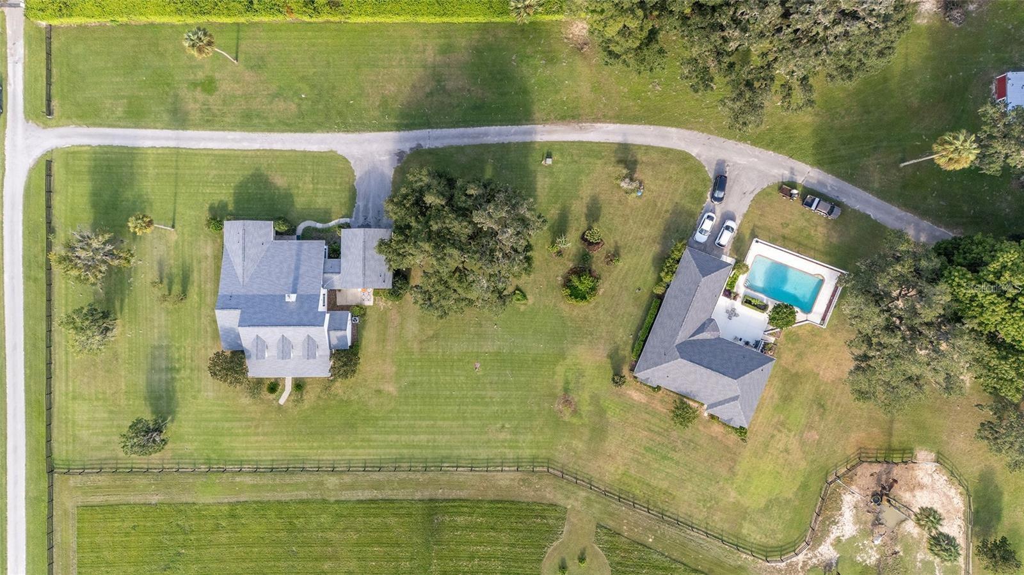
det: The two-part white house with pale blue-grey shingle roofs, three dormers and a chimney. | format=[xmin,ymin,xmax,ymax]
[215,220,393,377]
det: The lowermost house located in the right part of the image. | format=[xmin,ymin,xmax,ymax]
[634,246,775,428]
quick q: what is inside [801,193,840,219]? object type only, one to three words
truck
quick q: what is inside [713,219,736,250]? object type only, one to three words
car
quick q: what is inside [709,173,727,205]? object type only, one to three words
car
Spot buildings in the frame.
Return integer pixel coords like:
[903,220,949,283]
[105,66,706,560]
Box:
[215,220,393,377]
[994,68,1024,119]
[634,246,775,428]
